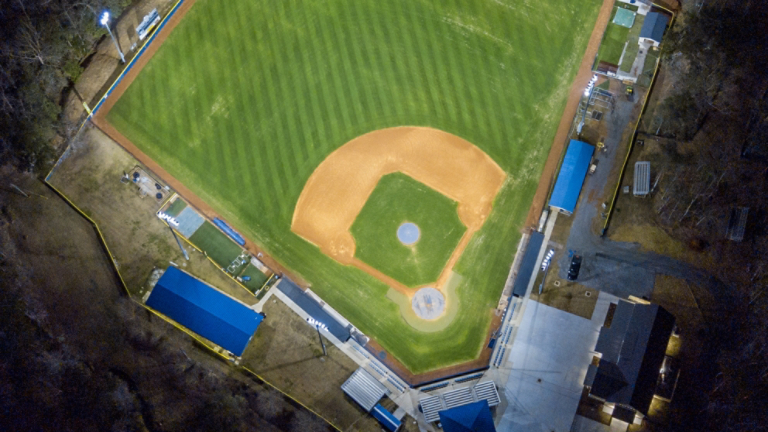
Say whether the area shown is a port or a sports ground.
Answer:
sports ground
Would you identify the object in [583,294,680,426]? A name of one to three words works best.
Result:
building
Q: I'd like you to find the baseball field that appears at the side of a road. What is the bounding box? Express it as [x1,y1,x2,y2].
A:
[92,0,614,386]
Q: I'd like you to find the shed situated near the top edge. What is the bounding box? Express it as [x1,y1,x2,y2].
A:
[639,12,668,47]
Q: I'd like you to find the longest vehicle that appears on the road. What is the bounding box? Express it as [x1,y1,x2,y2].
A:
[568,256,581,280]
